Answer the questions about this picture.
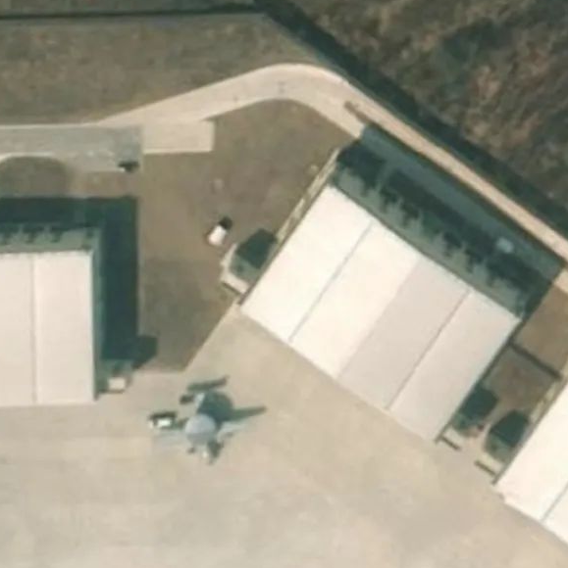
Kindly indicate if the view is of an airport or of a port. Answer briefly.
airport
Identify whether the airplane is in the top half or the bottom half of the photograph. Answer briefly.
bottom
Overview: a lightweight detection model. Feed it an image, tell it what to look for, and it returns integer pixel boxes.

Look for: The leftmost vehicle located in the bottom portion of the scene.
[150,415,174,428]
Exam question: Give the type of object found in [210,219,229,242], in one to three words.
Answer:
vehicle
